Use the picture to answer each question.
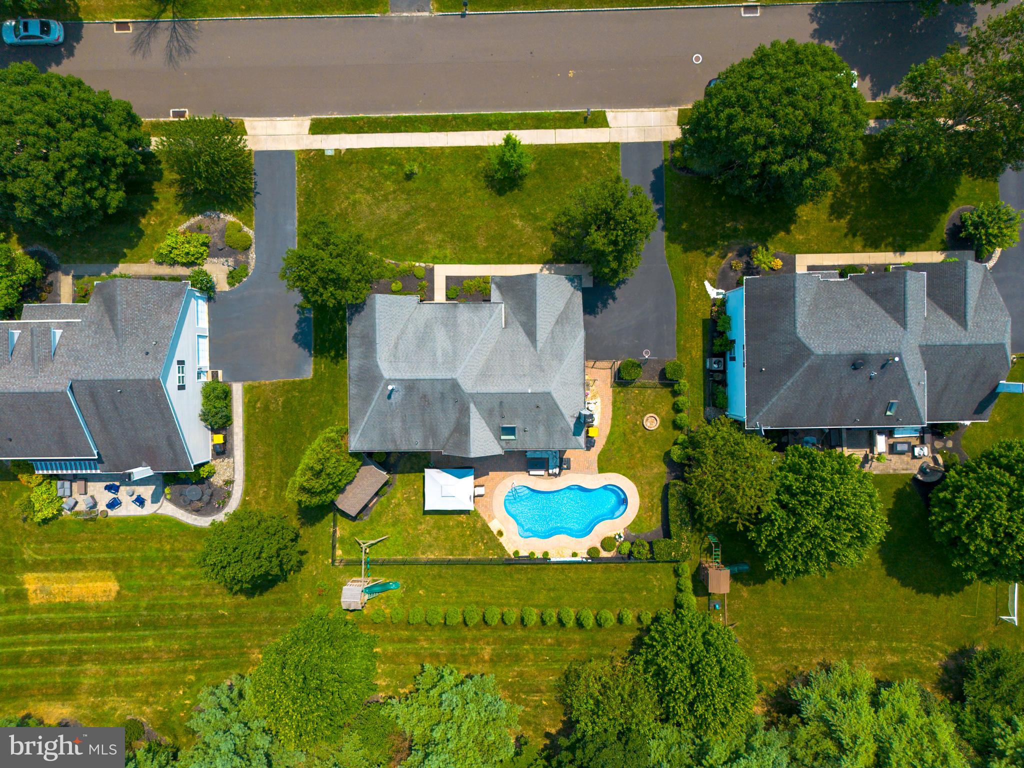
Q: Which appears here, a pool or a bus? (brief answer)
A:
pool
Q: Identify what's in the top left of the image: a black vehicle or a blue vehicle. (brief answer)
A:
blue vehicle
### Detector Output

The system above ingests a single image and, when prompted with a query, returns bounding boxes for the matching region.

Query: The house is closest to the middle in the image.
[346,270,595,457]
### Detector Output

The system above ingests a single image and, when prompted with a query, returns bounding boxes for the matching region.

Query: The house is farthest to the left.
[0,274,221,485]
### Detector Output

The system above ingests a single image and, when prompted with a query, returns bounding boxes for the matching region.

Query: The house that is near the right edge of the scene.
[724,257,1024,429]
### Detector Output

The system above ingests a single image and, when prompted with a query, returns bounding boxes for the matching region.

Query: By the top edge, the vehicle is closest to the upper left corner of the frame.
[4,16,66,50]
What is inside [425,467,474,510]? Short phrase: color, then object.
white gazebo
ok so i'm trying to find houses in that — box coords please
[0,274,221,485]
[346,270,595,457]
[724,257,1024,429]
